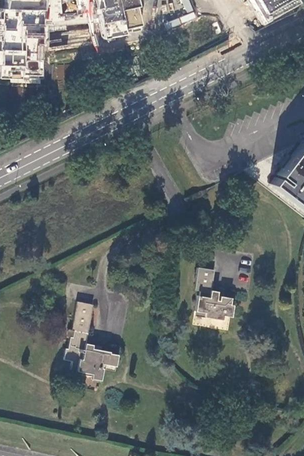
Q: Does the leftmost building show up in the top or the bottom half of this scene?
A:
top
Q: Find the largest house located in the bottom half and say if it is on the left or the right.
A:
left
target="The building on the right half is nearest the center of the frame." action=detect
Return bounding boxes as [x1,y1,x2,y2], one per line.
[196,268,214,291]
